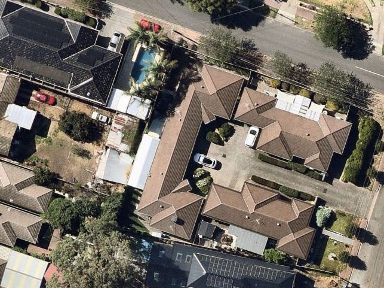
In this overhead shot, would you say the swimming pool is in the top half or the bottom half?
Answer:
top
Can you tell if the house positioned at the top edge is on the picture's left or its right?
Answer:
left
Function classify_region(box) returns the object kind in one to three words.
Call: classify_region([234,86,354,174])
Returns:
house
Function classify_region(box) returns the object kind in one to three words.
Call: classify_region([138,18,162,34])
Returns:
car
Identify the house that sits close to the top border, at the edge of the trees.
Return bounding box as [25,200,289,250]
[0,0,151,114]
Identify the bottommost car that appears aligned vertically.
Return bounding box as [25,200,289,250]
[245,124,259,150]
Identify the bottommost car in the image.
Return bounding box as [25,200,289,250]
[193,152,218,167]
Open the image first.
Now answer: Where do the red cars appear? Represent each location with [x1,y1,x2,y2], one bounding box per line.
[32,91,57,105]
[138,18,162,34]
